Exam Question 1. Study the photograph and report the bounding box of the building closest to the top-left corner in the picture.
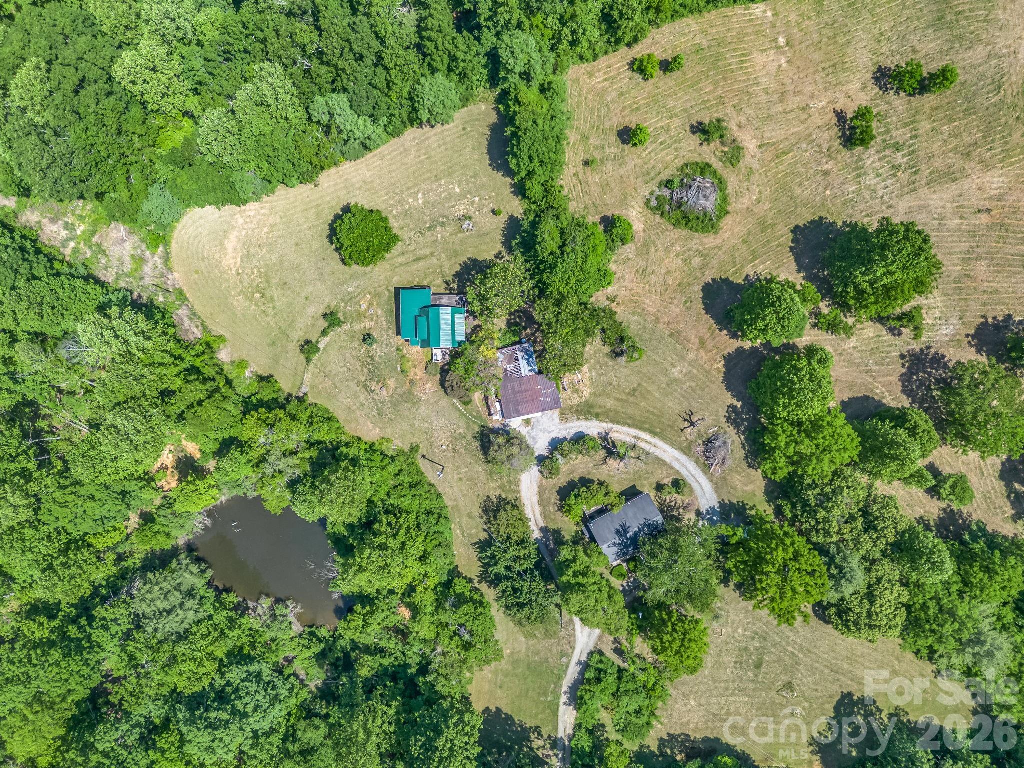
[399,289,467,366]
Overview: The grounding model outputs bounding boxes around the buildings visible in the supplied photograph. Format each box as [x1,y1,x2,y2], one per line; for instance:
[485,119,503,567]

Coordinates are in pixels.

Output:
[586,492,668,565]
[490,337,563,423]
[399,289,467,366]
